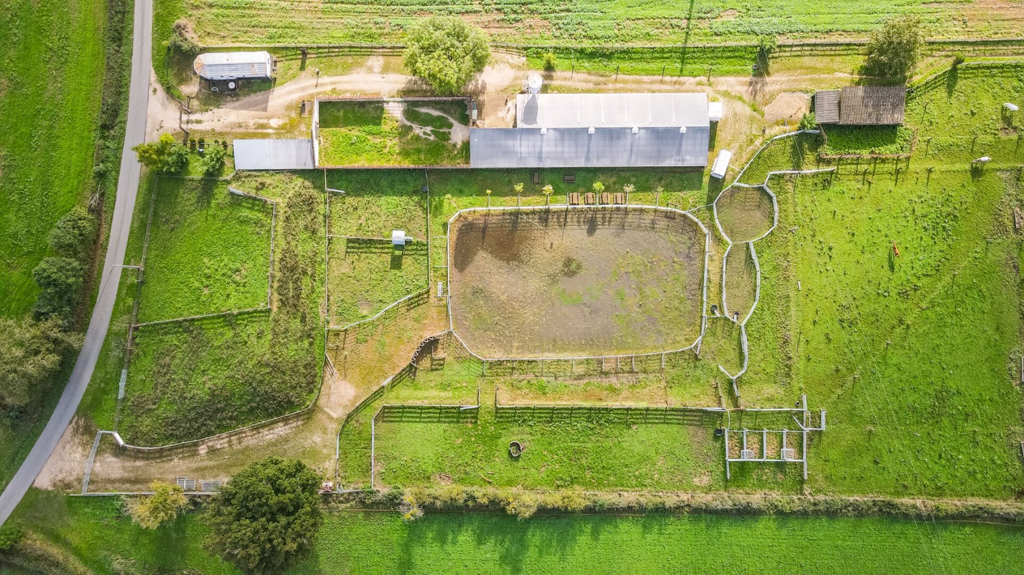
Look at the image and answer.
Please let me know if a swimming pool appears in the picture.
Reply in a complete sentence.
No, there isn't any swimming pool down there.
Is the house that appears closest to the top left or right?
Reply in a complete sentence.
It is on the left.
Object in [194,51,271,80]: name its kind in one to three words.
house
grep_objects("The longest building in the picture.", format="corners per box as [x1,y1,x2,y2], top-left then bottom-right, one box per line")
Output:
[469,92,713,168]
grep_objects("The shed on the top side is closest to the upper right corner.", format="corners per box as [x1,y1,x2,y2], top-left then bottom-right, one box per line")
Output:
[835,85,906,128]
